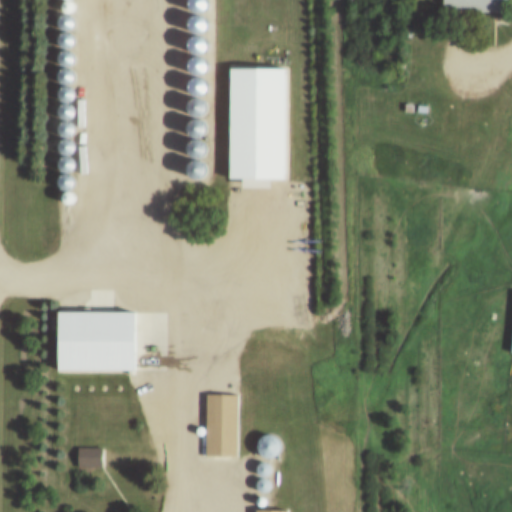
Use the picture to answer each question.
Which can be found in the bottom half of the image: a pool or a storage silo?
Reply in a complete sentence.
You can see a storage silo in the bottom half of the image.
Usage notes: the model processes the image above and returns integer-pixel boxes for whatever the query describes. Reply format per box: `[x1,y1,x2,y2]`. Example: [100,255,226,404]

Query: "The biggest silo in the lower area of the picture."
[257,434,284,460]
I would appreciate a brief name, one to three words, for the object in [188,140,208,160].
silo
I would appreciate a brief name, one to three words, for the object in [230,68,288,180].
shed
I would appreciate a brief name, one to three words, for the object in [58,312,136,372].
shed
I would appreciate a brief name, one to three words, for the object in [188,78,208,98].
silo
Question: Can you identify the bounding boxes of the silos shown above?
[58,69,76,86]
[188,57,208,77]
[58,174,76,191]
[58,86,76,104]
[188,16,208,36]
[58,16,76,34]
[188,160,208,180]
[58,156,76,174]
[58,121,76,139]
[62,0,79,17]
[256,478,274,496]
[58,138,76,156]
[58,104,76,122]
[188,118,208,139]
[188,0,208,16]
[188,140,208,160]
[62,190,78,207]
[257,434,284,460]
[188,36,208,56]
[58,51,76,69]
[256,462,274,479]
[188,98,208,118]
[58,34,76,52]
[188,78,208,98]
